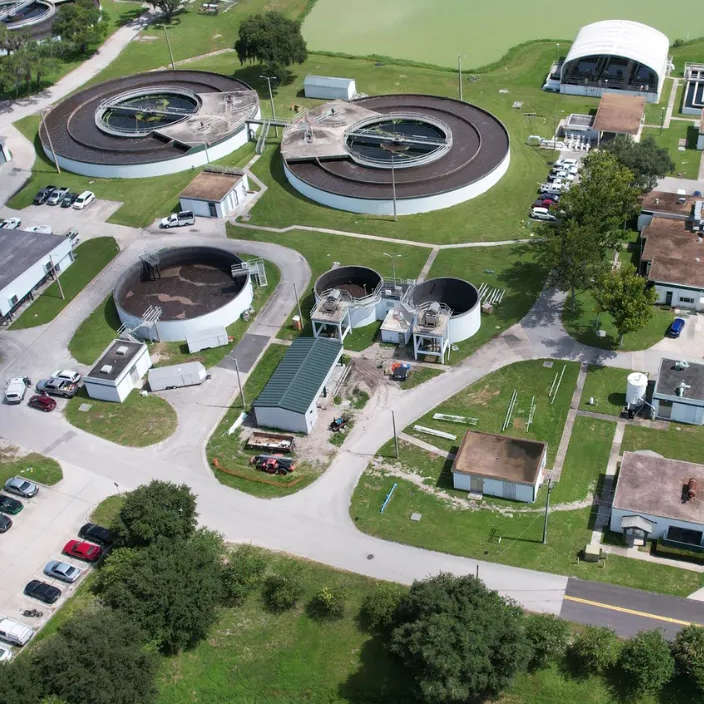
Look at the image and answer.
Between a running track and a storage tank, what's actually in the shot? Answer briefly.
storage tank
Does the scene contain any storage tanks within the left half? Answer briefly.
Yes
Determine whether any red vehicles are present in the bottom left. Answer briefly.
Yes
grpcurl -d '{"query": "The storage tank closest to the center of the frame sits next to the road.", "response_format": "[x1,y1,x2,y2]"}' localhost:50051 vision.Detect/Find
[309,266,386,347]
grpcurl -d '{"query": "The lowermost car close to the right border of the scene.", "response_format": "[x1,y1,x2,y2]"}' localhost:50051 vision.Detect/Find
[665,311,687,337]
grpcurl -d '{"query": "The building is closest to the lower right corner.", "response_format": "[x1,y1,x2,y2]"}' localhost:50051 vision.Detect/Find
[611,450,704,552]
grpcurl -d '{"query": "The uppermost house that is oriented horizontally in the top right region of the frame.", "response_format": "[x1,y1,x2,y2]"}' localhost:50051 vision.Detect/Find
[515,114,619,159]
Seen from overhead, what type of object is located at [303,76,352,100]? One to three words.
shed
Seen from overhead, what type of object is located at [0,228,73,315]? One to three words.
building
